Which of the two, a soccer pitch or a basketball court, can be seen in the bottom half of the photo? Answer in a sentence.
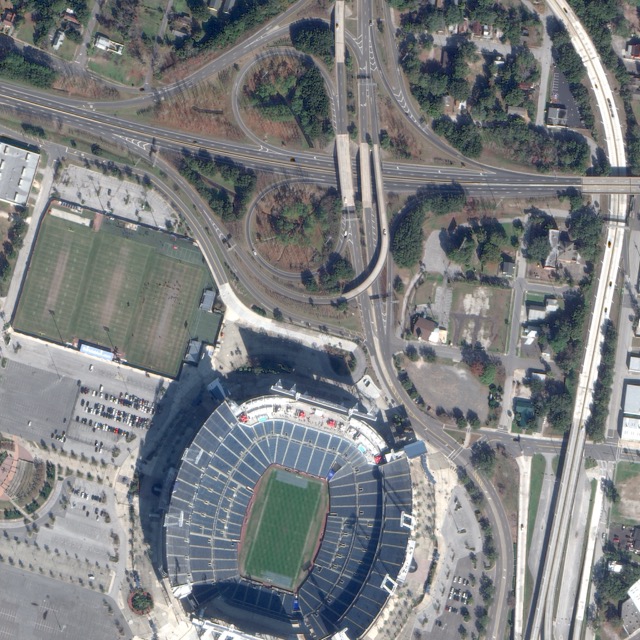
You can see a soccer pitch in the bottom half of the photo.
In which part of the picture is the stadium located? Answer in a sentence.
The stadium appears toward the bottom of the photo.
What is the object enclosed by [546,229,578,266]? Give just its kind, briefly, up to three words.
building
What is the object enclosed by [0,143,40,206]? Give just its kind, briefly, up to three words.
building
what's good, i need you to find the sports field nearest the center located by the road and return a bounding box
[126,257,202,370]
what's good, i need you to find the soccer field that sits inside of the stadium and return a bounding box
[239,464,329,593]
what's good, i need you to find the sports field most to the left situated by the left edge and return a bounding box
[17,226,94,339]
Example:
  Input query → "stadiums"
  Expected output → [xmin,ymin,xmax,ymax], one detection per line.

[163,378,428,640]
